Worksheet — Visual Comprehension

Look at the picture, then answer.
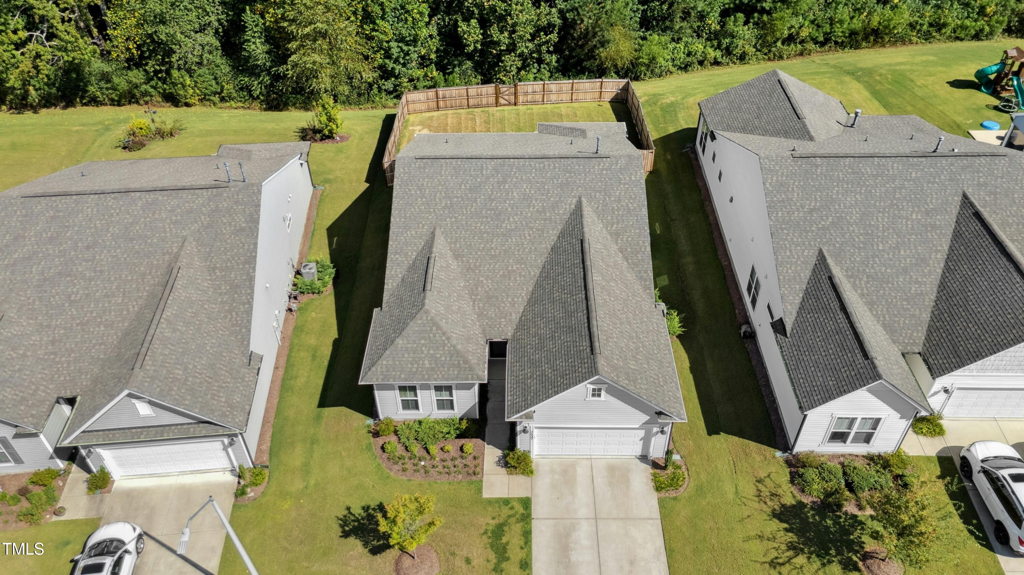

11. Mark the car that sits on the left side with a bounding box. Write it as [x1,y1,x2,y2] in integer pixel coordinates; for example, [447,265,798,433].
[71,520,142,575]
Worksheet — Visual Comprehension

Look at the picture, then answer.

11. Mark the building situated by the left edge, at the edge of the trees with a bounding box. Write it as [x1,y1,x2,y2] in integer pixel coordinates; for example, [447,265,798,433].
[0,141,317,478]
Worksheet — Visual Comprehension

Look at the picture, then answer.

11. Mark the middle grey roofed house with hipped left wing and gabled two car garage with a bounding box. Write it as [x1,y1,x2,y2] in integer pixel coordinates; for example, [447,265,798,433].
[357,121,689,457]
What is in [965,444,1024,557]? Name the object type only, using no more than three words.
car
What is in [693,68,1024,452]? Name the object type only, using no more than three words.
house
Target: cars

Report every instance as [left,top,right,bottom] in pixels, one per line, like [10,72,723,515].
[965,444,1024,557]
[71,520,142,575]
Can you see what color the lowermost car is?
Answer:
white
